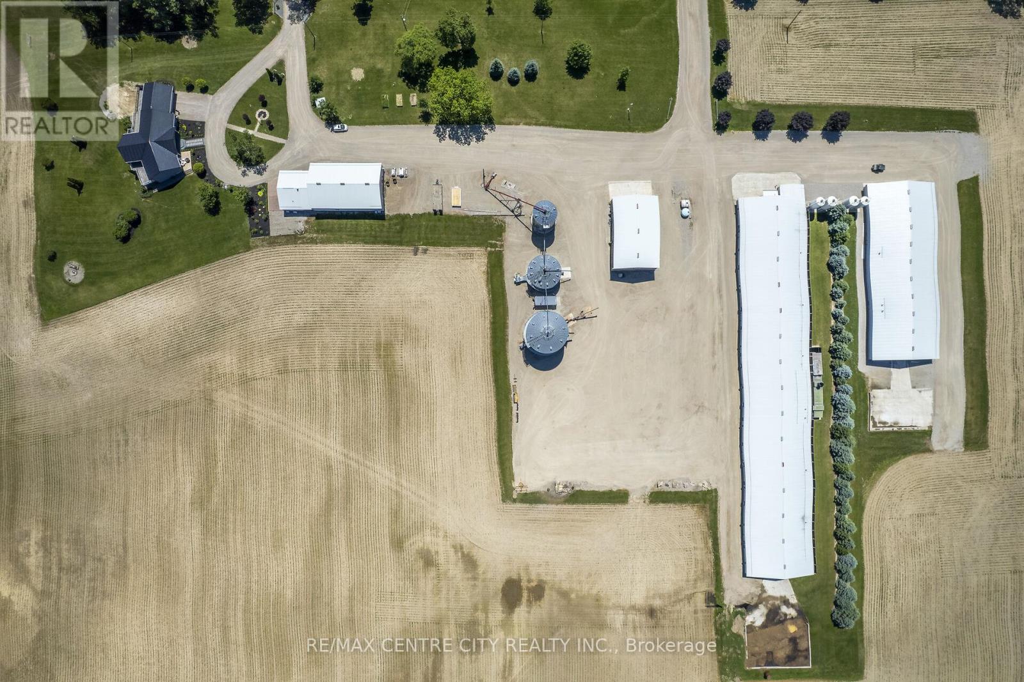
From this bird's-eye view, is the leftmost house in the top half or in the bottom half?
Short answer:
top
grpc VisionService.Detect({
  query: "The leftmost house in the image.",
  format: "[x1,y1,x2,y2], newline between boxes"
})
[118,82,185,193]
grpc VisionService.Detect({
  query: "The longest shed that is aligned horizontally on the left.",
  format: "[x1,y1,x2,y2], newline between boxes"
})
[277,163,383,211]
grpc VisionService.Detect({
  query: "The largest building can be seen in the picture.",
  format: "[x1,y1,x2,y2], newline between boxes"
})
[735,184,814,579]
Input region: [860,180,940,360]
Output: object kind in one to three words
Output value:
barn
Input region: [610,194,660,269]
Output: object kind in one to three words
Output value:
shed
